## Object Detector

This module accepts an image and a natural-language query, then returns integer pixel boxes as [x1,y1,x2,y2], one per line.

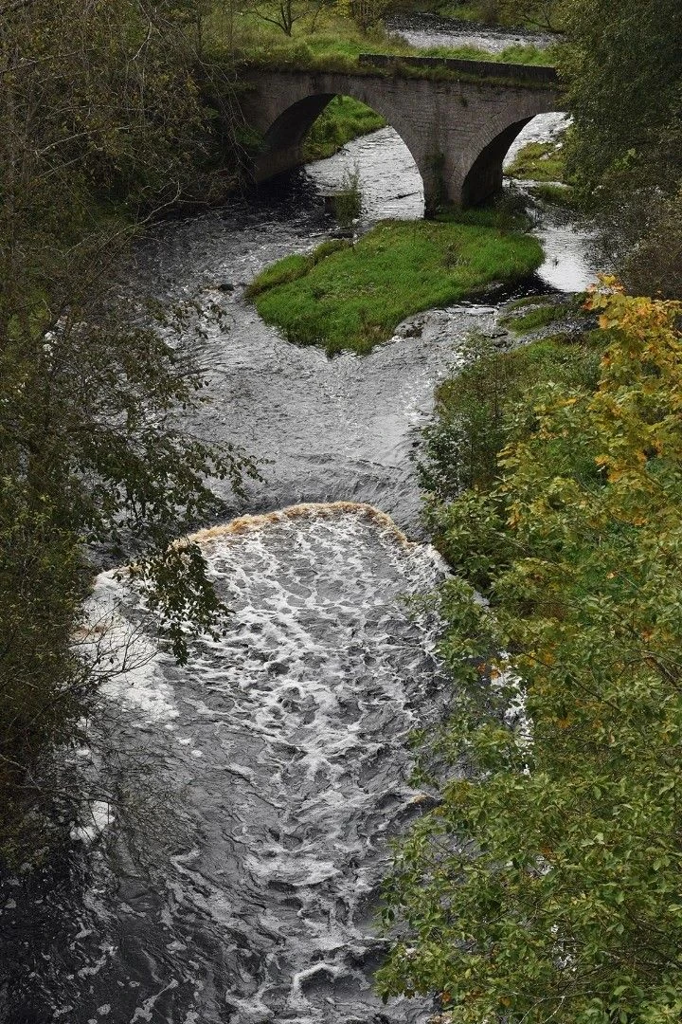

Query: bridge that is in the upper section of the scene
[101,52,681,236]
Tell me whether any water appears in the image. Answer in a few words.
Yes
